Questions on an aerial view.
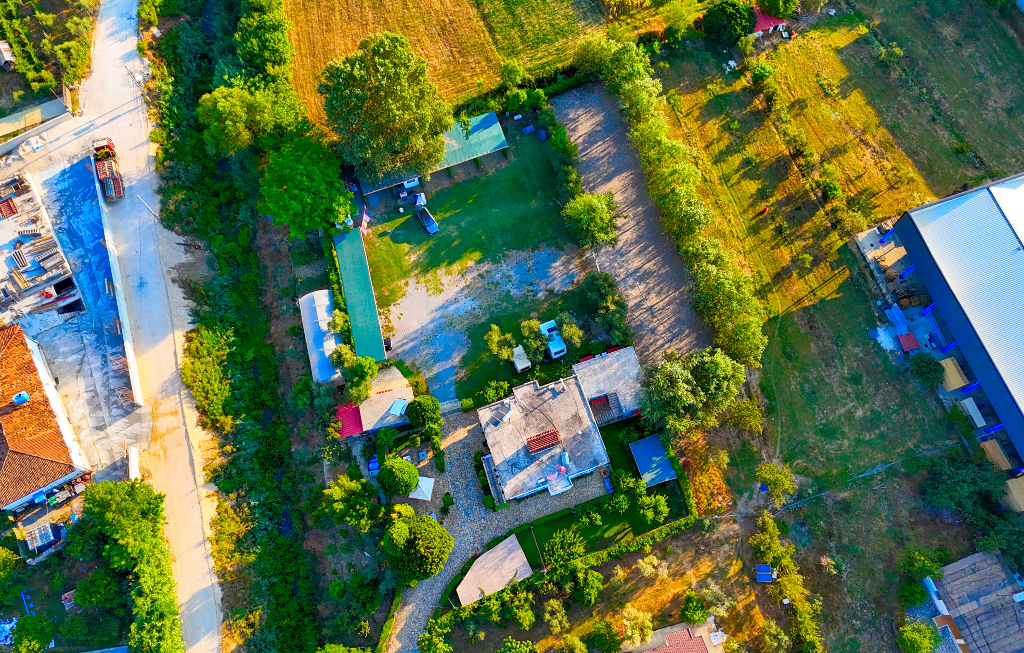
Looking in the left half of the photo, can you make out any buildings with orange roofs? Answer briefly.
Yes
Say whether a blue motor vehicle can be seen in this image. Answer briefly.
Yes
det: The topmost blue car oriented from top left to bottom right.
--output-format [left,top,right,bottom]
[415,205,440,237]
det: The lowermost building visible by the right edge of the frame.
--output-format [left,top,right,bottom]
[925,553,1024,653]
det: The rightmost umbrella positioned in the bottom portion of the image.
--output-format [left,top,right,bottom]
[408,477,434,500]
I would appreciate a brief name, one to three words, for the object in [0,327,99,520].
house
